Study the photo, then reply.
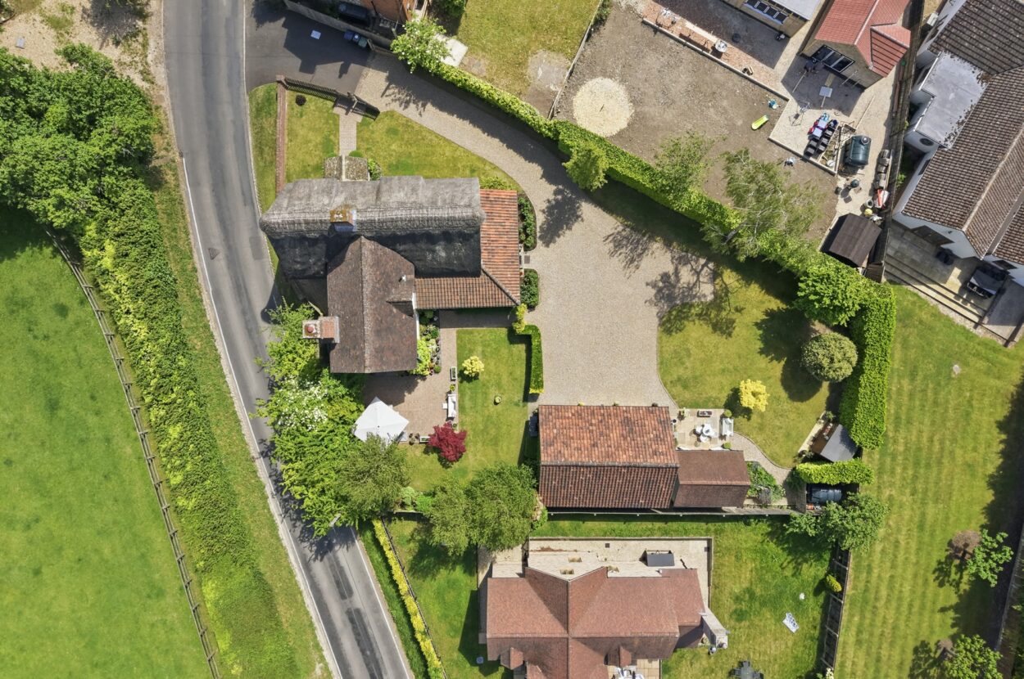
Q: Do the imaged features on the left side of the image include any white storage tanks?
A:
No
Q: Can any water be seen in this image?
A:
No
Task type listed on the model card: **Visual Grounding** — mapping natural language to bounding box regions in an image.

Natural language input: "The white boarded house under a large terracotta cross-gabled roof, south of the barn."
[485,556,728,679]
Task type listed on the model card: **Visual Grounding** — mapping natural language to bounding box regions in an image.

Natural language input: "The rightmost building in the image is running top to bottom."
[893,0,1024,283]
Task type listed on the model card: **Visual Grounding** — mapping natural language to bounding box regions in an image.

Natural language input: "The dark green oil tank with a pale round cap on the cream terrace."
[842,136,872,170]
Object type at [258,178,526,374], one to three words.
house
